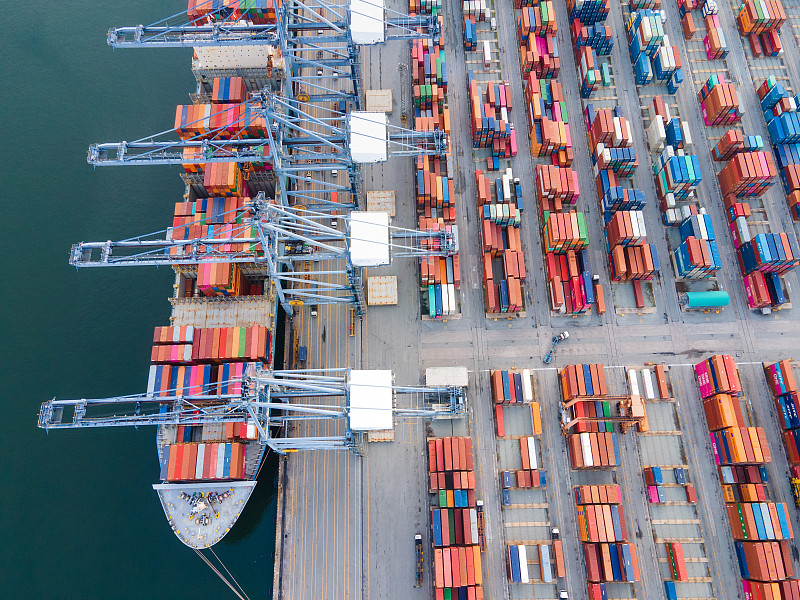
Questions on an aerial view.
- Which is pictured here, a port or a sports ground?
port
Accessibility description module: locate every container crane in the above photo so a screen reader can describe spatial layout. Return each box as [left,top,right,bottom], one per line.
[559,395,653,434]
[38,366,472,466]
[87,88,453,234]
[108,0,445,135]
[68,198,461,328]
